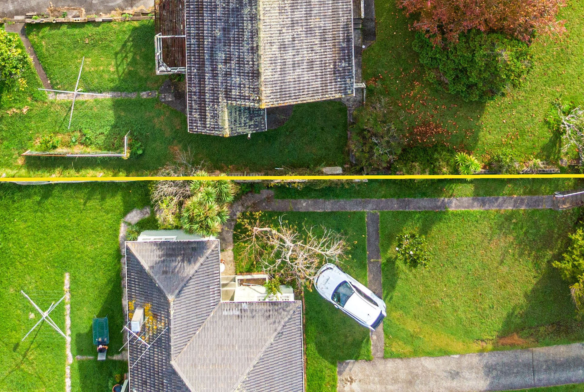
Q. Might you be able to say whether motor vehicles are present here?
Yes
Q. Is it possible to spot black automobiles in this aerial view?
No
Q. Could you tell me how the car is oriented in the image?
on a diagonal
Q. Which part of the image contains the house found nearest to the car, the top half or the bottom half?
bottom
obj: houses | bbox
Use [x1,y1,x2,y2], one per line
[124,232,305,392]
[185,0,355,137]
